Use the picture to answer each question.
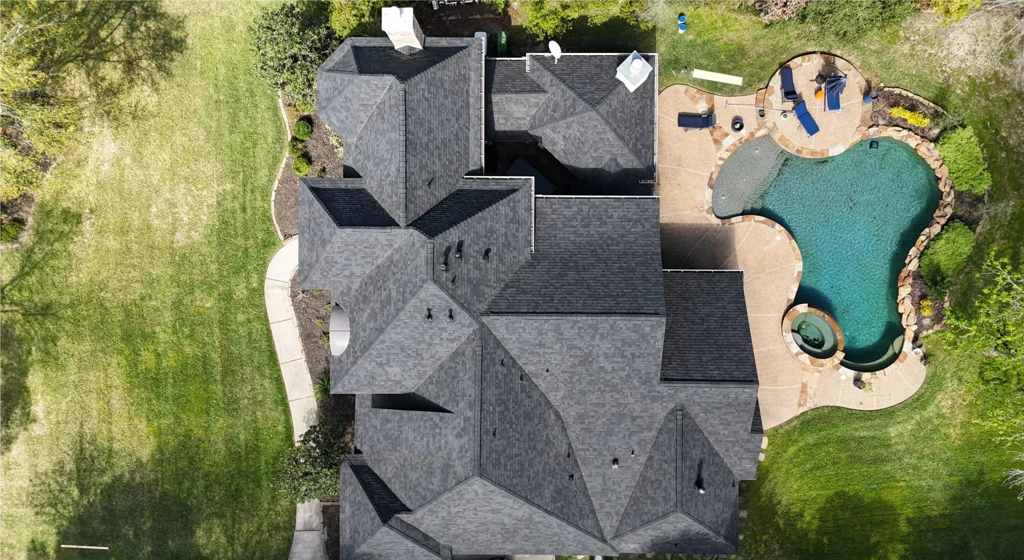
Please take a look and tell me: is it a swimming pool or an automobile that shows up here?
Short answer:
swimming pool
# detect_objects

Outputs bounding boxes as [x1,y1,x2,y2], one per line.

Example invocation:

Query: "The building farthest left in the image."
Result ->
[296,4,763,560]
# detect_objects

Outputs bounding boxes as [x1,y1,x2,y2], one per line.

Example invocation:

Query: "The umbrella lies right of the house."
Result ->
[810,64,848,96]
